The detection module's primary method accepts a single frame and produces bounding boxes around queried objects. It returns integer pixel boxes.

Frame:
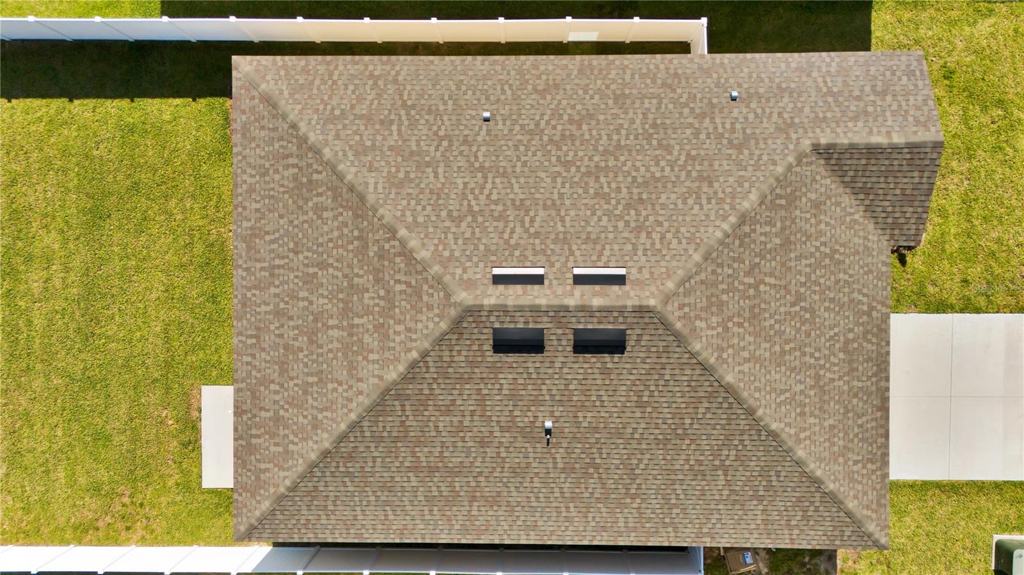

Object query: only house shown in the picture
[232,51,945,552]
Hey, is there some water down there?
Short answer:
No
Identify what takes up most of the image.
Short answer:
buildings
